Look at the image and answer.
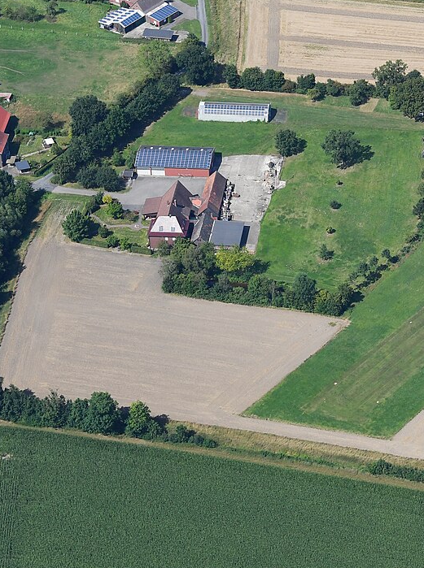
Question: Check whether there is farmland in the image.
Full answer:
Yes, there is farmland in the image.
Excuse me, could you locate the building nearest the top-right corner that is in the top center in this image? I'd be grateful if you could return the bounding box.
[197,102,270,122]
